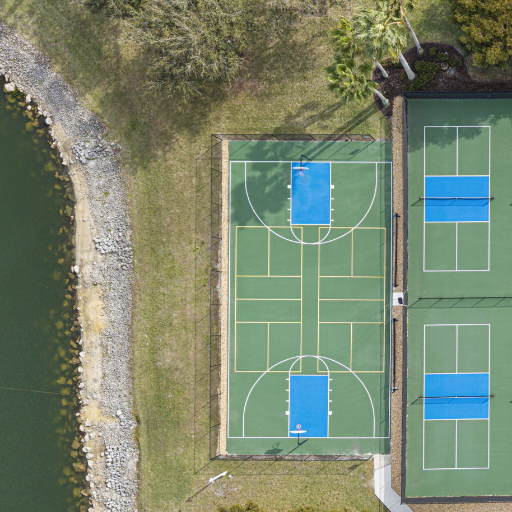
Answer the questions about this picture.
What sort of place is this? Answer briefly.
sports ground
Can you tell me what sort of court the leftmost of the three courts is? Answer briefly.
basketball court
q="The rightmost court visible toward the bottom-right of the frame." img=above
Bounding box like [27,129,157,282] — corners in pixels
[423,324,491,469]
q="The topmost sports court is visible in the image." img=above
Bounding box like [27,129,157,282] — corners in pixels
[423,125,491,271]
